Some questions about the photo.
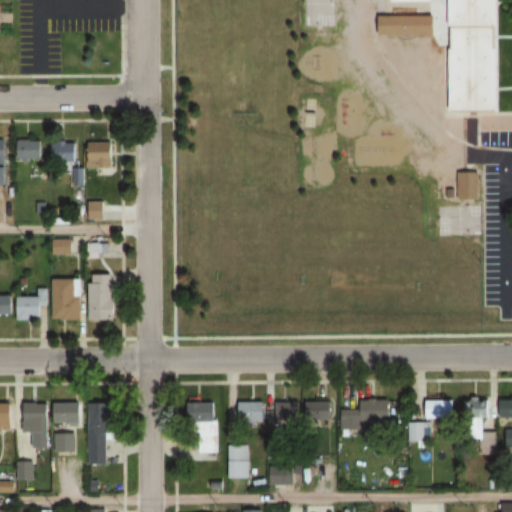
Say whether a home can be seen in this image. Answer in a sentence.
Yes, a home is visible in the scene.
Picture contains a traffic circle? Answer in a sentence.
No, there isn't any traffic circle down there.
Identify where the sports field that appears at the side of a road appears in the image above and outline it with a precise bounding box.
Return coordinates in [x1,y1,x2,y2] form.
[178,0,482,336]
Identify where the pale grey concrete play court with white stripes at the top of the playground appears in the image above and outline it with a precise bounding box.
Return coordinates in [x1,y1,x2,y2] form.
[306,0,336,27]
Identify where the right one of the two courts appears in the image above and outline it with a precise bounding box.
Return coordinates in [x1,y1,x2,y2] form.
[440,206,482,236]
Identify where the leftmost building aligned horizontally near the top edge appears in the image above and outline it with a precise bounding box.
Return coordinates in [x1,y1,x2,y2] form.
[378,14,432,36]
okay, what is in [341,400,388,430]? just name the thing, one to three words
house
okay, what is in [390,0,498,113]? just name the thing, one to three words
building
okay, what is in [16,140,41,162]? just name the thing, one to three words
house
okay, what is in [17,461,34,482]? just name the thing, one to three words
building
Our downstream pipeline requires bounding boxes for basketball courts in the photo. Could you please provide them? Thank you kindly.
[440,206,482,236]
[306,0,336,27]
